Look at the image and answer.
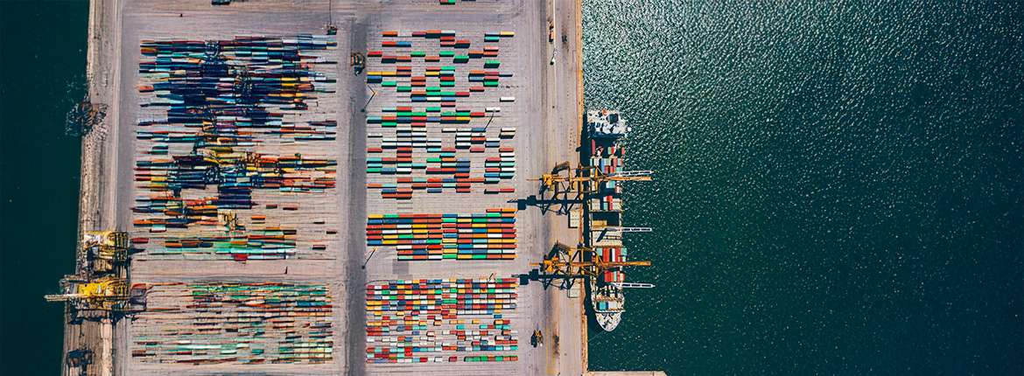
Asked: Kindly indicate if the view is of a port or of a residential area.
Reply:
port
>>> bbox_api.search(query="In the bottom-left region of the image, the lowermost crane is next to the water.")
[46,272,137,314]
